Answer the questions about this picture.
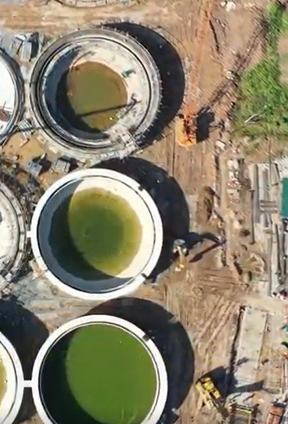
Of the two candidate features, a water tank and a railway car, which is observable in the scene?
water tank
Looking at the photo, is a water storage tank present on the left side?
Yes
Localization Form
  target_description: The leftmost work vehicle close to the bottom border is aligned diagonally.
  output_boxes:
[186,373,234,418]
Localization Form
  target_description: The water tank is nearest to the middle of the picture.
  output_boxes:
[29,169,162,301]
